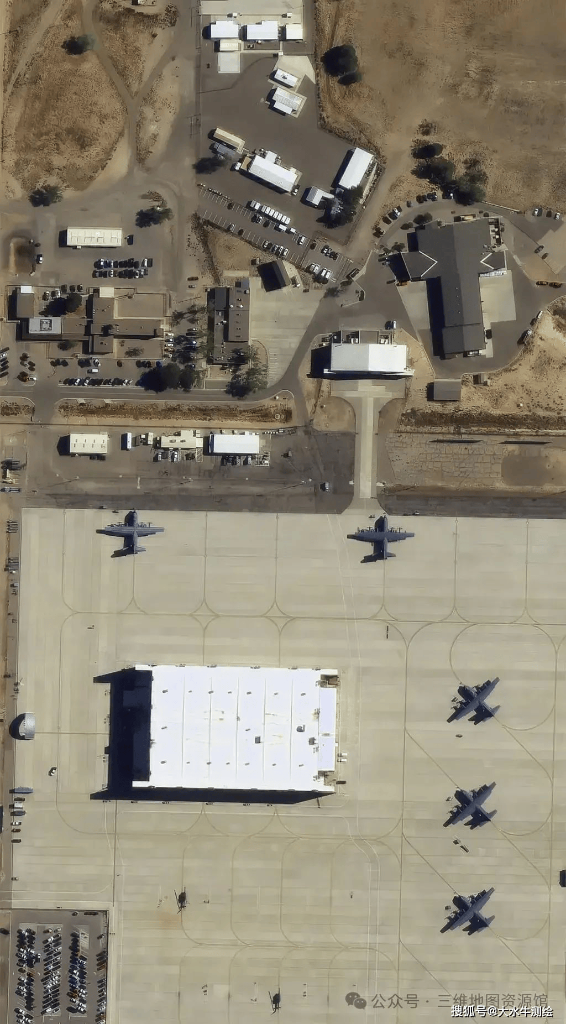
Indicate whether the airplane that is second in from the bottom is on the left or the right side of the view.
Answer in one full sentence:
The airplane that is second in from the bottom is on the right side of the image.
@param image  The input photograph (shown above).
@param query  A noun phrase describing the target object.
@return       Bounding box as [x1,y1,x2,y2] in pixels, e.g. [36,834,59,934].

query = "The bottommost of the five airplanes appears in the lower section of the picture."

[451,887,497,934]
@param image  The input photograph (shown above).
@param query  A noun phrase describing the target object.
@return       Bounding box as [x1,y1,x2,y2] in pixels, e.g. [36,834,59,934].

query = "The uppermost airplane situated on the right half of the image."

[356,516,416,559]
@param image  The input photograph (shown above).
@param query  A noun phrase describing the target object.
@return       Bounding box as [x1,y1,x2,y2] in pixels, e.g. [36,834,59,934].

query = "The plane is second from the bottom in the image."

[452,782,499,829]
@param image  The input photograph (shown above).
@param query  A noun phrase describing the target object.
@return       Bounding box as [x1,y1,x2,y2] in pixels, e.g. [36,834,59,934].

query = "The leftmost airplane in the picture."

[105,511,164,555]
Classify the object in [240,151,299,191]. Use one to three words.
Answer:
building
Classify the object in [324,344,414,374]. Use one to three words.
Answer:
hangar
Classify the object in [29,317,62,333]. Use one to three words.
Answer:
building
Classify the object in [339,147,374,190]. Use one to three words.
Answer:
shed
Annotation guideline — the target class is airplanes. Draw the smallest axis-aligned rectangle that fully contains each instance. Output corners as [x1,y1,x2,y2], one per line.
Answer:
[451,887,497,934]
[456,677,503,724]
[105,511,164,555]
[452,782,499,829]
[356,516,416,559]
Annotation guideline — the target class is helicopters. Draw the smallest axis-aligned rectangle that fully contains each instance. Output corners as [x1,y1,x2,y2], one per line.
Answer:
[277,988,282,1010]
[182,887,187,909]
